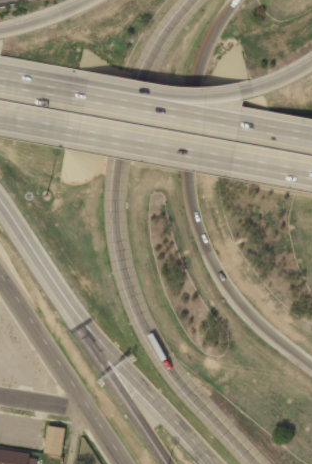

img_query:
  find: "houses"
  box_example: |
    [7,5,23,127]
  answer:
[44,426,66,461]
[0,450,38,464]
